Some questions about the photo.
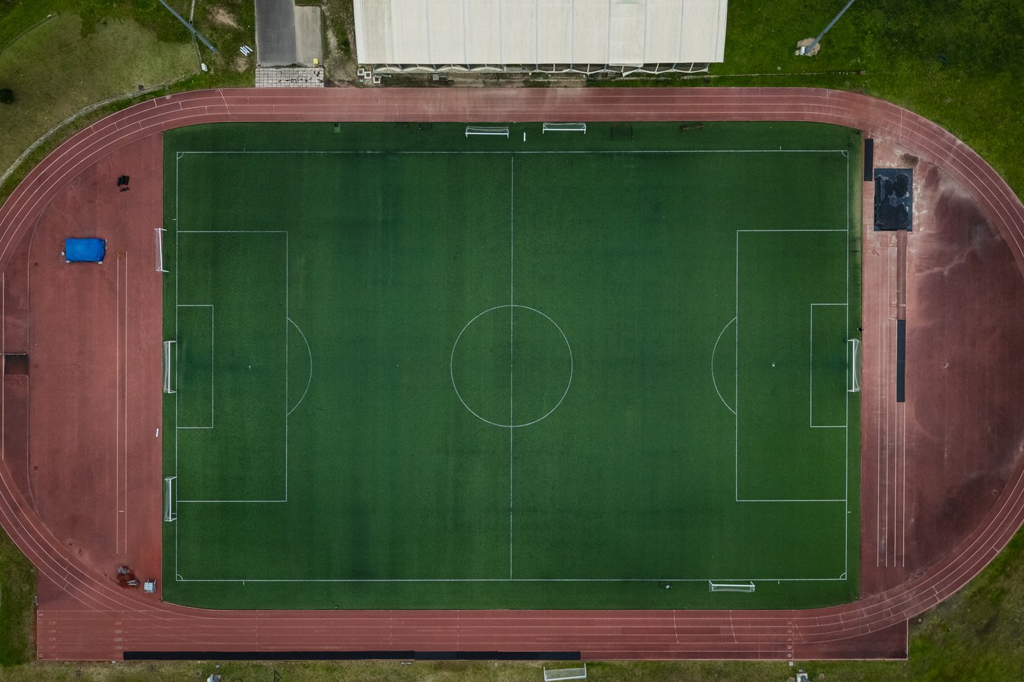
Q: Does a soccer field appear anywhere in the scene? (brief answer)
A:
Yes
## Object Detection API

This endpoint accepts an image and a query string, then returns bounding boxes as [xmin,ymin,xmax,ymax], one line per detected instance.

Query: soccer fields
[162,122,862,610]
